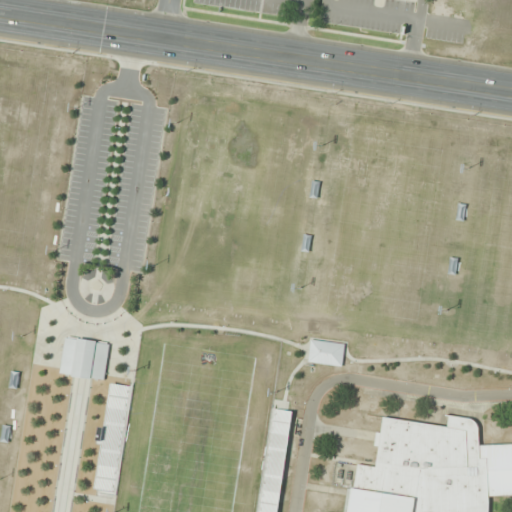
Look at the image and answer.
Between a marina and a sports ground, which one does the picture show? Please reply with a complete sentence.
This image shows a sports ground.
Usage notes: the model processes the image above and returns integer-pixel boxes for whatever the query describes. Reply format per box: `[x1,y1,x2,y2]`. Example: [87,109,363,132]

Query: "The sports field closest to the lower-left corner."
[136,339,262,512]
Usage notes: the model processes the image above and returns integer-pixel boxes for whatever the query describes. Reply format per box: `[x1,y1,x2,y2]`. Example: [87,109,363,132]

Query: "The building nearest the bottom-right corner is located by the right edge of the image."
[344,414,512,512]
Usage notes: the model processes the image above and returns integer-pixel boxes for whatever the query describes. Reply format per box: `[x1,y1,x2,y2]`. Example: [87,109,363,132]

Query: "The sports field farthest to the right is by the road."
[462,114,512,298]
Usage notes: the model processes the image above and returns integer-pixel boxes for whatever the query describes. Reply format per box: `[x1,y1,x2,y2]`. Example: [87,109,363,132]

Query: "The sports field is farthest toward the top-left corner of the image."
[170,104,312,301]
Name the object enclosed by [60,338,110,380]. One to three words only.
building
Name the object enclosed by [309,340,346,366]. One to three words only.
building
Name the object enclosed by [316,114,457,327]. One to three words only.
sports field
